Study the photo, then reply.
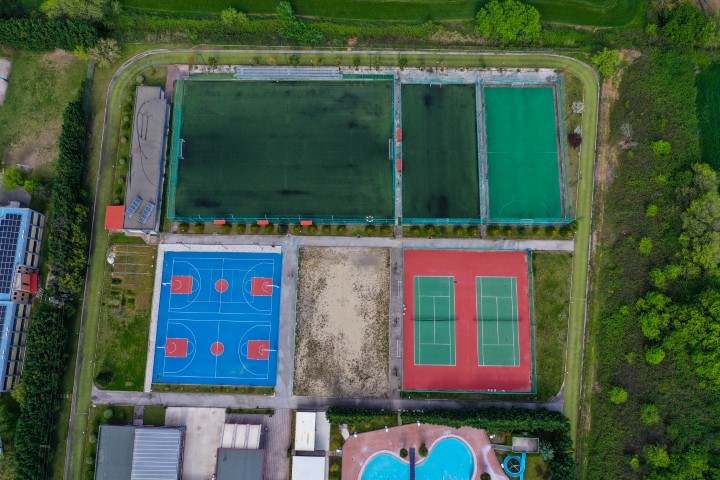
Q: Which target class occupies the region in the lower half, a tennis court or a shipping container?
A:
tennis court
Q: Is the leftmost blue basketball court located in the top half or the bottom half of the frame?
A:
bottom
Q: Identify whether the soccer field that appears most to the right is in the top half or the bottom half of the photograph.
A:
top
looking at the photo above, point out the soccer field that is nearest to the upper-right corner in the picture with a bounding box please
[402,84,481,219]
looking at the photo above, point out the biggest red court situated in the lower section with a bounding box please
[403,249,533,391]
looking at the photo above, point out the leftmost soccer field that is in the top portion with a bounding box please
[173,79,394,219]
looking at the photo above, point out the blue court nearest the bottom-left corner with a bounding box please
[152,251,282,387]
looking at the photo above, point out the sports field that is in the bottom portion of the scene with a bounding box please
[293,248,390,397]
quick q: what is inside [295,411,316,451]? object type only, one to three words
shed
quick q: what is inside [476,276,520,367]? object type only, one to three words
tennis court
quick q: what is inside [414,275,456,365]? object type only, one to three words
tennis court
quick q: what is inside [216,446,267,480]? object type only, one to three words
building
